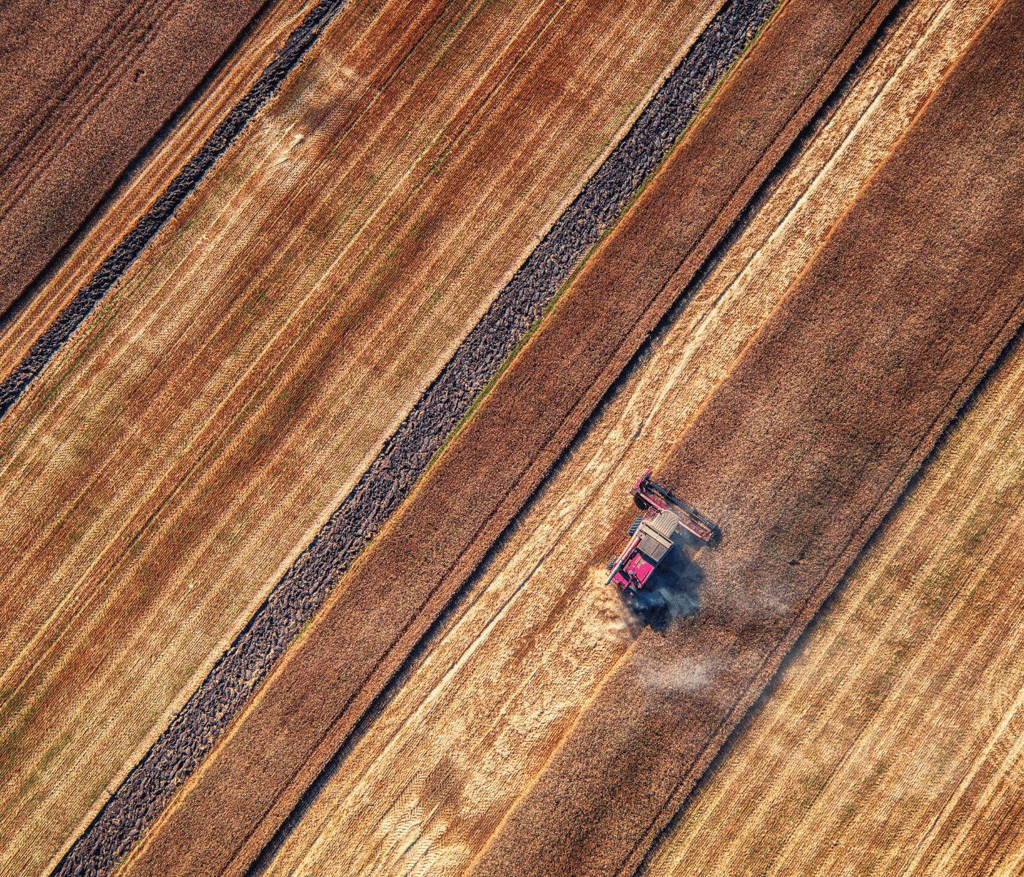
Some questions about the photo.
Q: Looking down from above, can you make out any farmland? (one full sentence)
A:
Yes, some farmland is visible.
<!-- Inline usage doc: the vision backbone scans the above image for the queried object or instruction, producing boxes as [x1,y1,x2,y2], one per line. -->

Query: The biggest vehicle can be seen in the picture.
[604,467,720,595]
